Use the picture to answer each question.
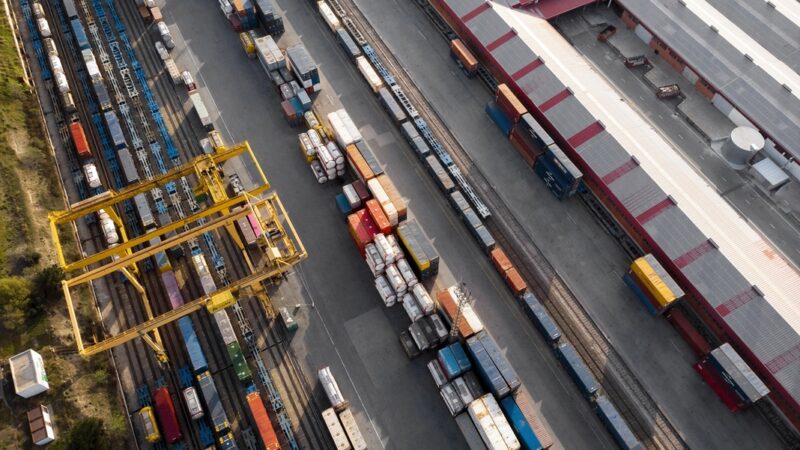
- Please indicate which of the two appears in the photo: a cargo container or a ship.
cargo container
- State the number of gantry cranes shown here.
two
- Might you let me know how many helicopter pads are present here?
0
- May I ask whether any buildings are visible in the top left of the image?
No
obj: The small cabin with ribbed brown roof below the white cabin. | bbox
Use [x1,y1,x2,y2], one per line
[25,404,52,439]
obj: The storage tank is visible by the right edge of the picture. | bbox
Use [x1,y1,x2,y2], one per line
[721,127,764,162]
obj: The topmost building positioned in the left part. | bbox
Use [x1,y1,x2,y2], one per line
[7,348,46,397]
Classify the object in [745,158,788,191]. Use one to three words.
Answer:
shed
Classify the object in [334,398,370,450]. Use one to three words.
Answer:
shipping container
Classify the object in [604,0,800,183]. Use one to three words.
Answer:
building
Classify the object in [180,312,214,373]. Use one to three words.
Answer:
shipping container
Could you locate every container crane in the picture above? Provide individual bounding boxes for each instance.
[47,140,271,280]
[66,195,307,355]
